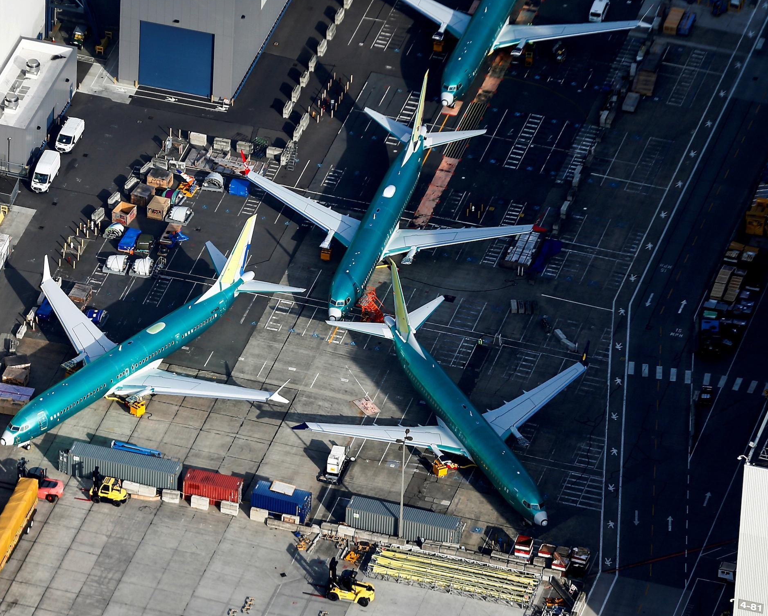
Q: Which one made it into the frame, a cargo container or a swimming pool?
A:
cargo container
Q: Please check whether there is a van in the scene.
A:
Yes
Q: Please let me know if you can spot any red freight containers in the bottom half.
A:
Yes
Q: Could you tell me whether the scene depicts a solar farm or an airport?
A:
airport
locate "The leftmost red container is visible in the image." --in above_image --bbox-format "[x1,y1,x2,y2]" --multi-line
[185,467,247,508]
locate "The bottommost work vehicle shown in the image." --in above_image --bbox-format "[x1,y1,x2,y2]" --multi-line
[302,551,380,610]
